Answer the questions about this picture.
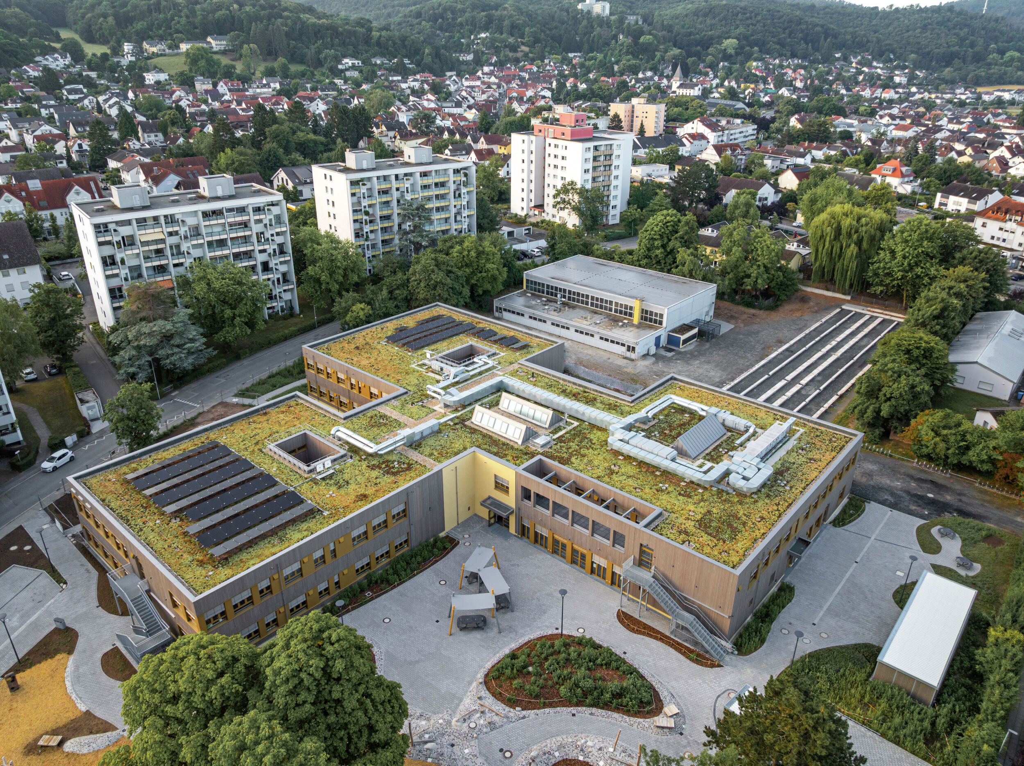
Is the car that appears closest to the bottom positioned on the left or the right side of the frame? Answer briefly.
left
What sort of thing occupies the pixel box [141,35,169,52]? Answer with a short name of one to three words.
house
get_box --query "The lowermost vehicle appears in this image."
[37,449,77,471]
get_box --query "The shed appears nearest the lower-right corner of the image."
[874,571,977,707]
